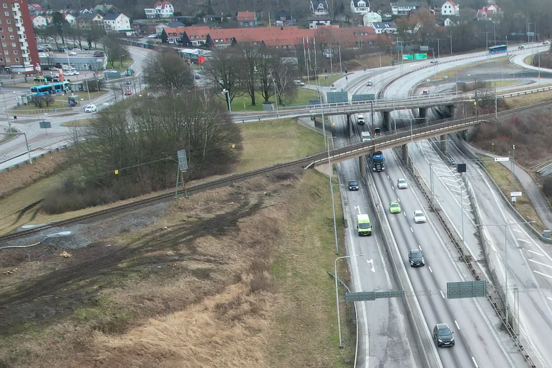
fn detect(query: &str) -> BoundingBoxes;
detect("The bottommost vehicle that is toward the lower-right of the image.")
[430,319,454,345]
